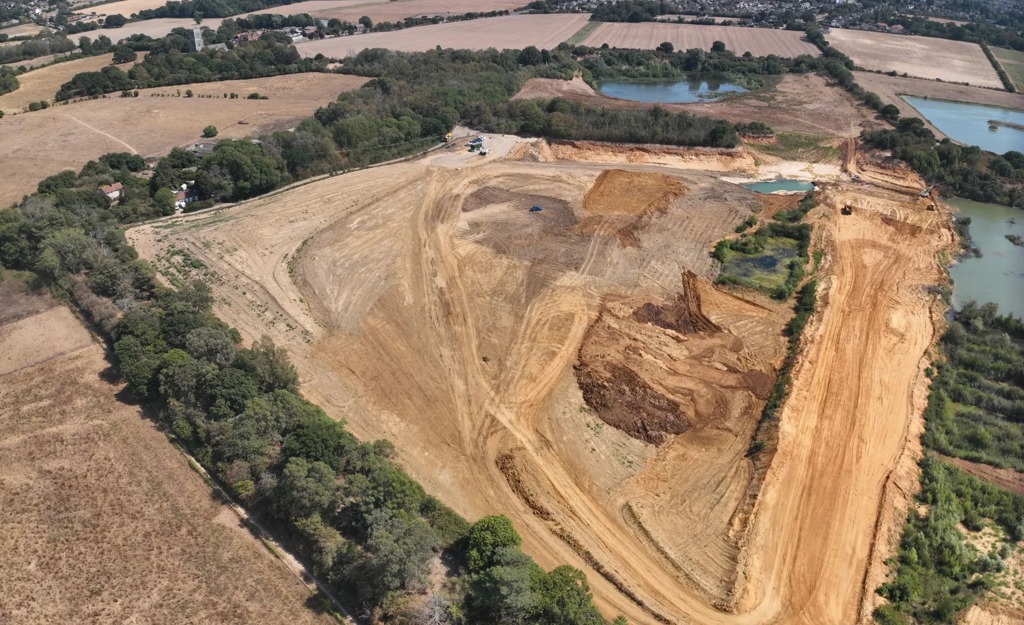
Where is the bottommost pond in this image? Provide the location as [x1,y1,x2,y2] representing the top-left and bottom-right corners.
[723,241,800,290]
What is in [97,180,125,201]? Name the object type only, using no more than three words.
house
